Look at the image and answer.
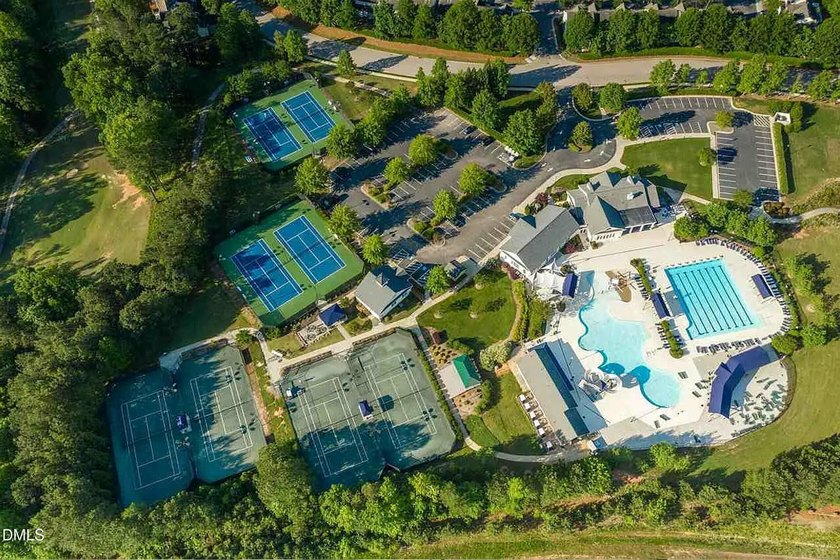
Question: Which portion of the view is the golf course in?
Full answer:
The golf course sits in the top left section of the image.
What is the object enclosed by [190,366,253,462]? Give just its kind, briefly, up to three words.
tennis court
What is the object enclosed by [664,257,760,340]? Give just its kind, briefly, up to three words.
swimming pool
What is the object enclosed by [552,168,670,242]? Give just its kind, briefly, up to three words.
building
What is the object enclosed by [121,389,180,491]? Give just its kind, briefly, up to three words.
tennis court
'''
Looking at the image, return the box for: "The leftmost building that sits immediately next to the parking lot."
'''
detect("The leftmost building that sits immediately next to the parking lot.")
[354,265,414,319]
